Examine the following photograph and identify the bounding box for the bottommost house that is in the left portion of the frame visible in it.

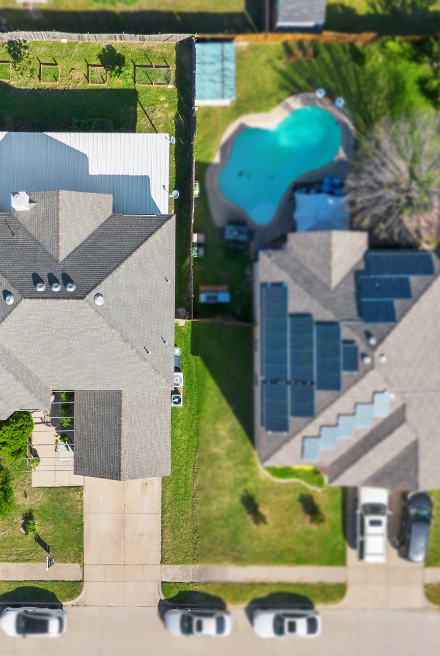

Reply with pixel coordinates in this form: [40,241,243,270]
[0,193,175,483]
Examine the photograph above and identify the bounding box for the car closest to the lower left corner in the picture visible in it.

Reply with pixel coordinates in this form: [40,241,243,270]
[0,603,66,637]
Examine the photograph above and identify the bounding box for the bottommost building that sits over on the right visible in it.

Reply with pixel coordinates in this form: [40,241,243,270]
[253,232,440,498]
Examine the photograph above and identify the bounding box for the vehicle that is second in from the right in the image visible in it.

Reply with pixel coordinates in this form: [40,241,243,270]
[358,487,392,562]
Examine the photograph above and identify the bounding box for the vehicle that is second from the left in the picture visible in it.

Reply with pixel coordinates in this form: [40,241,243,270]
[164,604,231,637]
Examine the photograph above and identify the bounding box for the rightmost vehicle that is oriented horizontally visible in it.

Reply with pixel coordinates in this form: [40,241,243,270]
[252,605,321,638]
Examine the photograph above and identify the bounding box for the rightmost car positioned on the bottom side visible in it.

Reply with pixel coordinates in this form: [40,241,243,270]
[399,494,434,560]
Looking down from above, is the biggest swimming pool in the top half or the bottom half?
top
